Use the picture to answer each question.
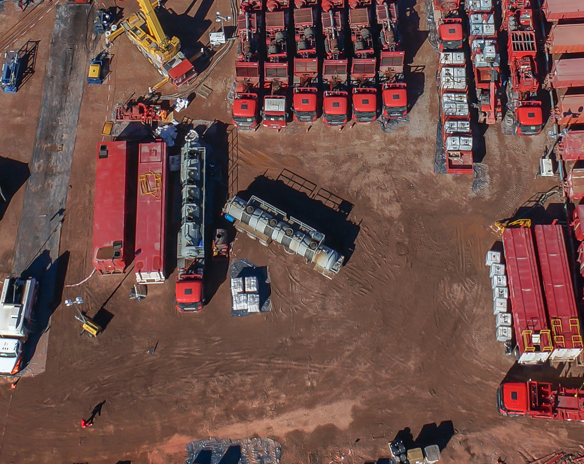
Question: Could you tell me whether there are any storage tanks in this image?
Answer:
Yes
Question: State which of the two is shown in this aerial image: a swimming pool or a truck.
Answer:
truck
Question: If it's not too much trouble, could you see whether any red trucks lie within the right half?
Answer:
Yes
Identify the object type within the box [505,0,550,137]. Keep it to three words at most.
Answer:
truck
